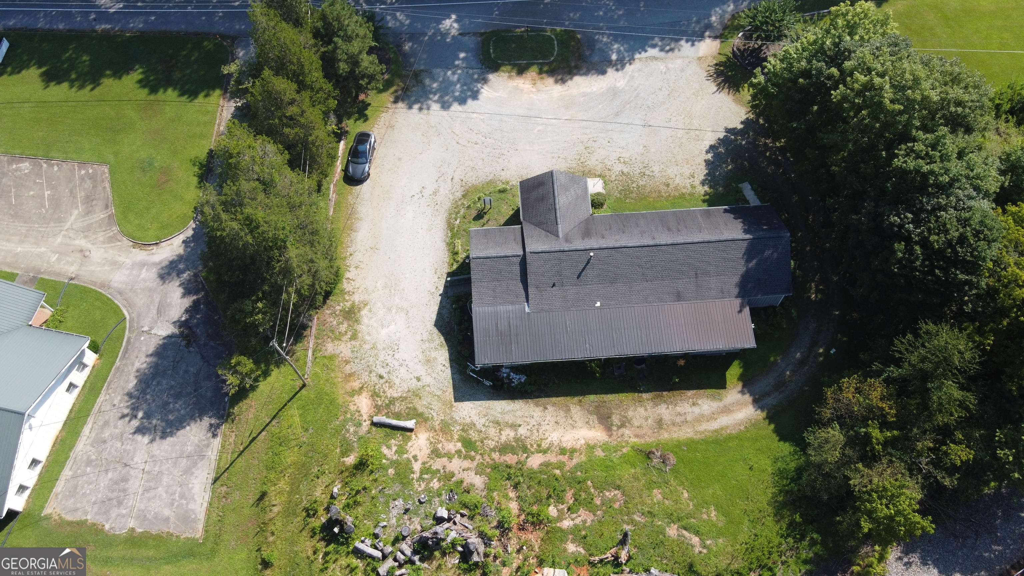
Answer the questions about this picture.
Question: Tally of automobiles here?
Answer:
one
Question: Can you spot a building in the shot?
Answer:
Yes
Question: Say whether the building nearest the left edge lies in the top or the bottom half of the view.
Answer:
bottom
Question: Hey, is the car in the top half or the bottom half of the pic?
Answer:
top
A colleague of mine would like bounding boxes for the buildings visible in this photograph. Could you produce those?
[0,276,97,516]
[466,169,794,379]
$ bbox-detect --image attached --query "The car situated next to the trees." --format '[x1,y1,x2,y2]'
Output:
[344,125,377,179]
